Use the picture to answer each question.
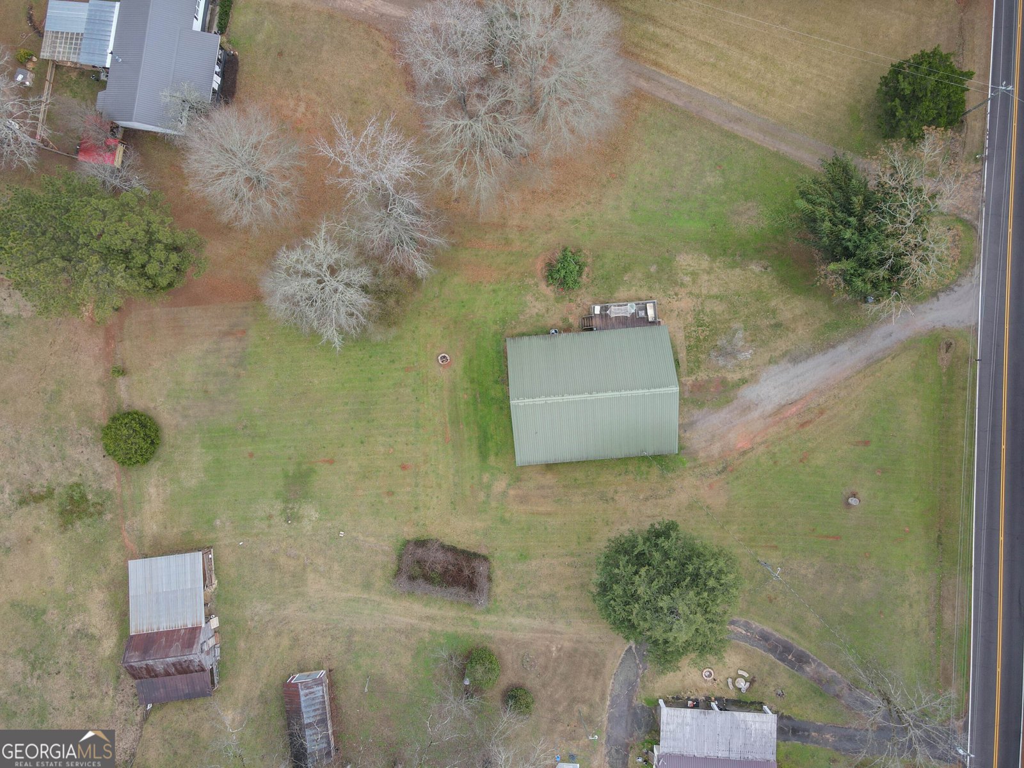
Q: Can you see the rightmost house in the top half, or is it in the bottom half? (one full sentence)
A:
The bottom half of the photo is where the rightmost house is.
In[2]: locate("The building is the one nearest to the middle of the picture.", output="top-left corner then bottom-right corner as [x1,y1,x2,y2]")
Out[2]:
[506,325,679,465]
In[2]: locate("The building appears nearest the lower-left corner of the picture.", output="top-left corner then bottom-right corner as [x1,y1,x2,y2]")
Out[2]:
[122,549,223,705]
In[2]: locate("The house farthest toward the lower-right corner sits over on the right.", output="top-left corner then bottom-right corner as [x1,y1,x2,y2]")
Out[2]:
[649,697,777,768]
